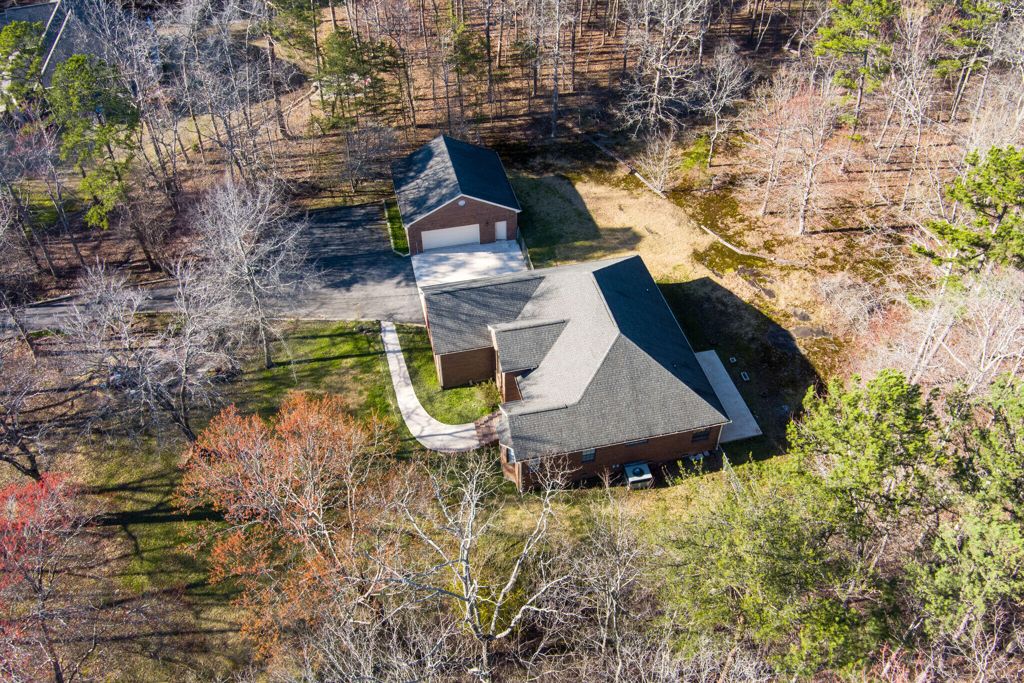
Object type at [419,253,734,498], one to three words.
house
